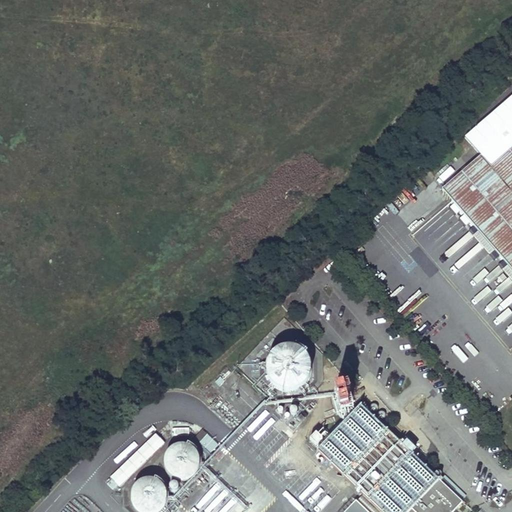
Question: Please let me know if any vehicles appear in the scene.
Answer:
Yes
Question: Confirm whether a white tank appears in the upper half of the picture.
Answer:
No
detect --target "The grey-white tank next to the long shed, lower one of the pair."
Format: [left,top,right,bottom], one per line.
[130,475,169,512]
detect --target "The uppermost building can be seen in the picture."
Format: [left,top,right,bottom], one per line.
[465,94,512,166]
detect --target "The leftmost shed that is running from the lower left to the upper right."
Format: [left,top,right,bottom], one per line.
[111,433,165,487]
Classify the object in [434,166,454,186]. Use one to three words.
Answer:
vehicle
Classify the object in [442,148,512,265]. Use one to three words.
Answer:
building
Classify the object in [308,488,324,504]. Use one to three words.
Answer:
vehicle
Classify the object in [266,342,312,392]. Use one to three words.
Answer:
storage tank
